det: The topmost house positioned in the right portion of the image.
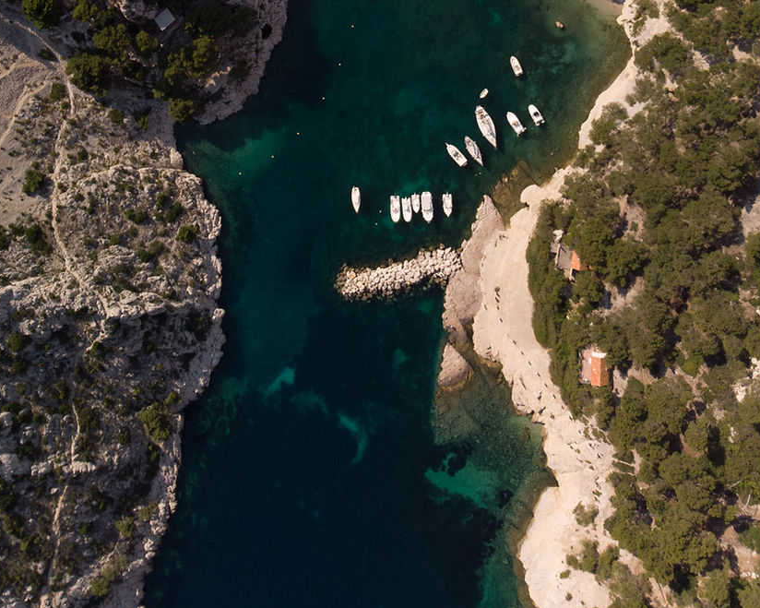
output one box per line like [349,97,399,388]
[548,239,592,271]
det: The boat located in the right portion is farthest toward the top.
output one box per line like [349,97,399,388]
[510,55,523,78]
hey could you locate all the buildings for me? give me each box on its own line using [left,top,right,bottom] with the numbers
[580,346,609,388]
[548,239,592,271]
[153,8,172,31]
